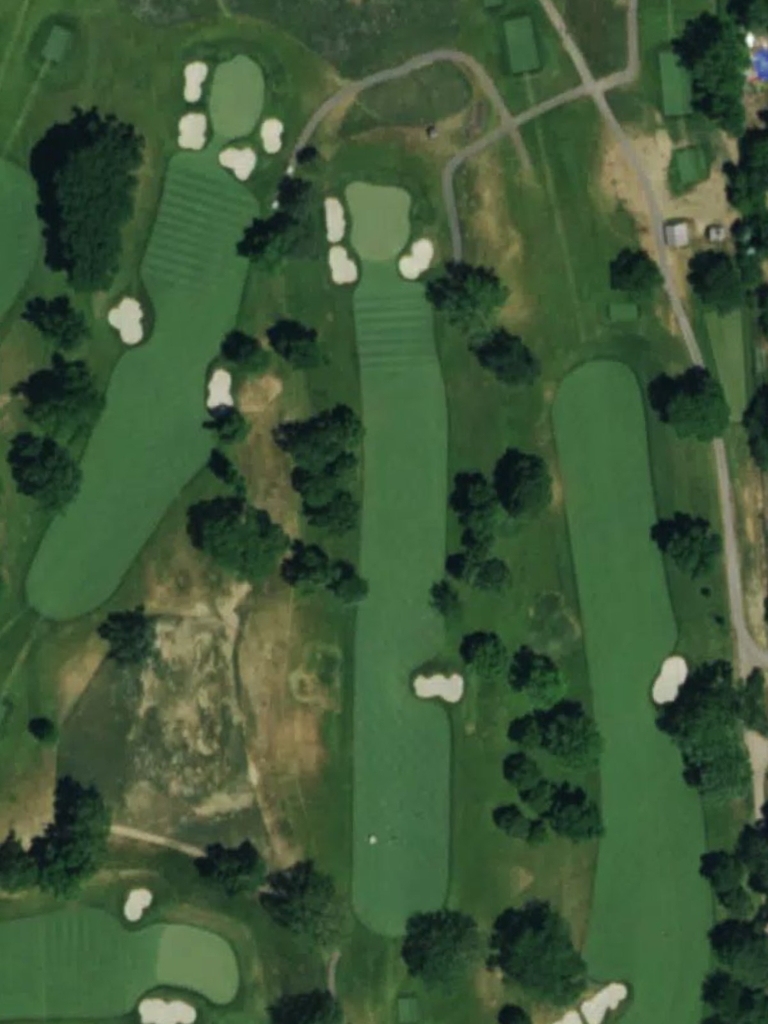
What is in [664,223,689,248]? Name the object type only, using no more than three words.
shed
